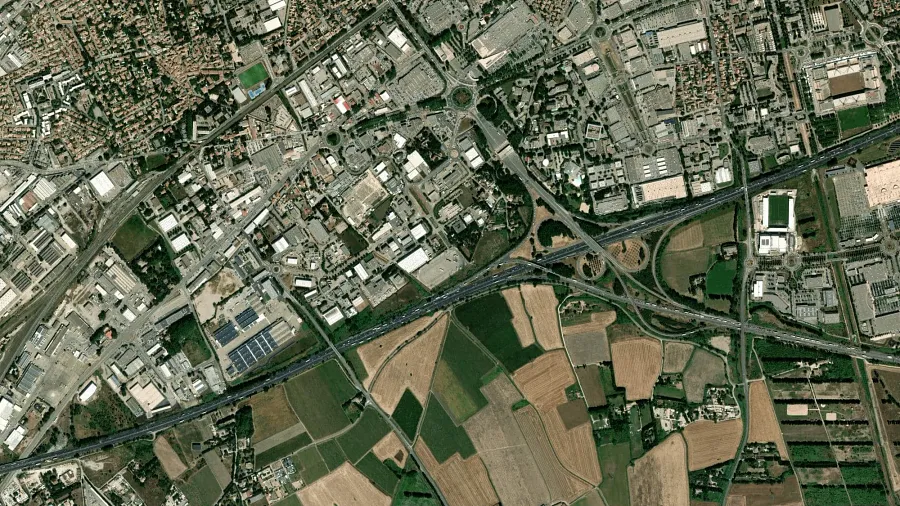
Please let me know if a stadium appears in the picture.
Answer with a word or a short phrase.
Yes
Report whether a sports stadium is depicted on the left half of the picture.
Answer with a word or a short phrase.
No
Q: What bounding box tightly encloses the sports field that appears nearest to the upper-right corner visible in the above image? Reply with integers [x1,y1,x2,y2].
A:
[829,71,866,98]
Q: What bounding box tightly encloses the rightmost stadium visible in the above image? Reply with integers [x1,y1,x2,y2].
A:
[801,48,890,119]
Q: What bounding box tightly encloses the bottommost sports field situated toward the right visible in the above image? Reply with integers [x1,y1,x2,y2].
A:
[769,195,789,228]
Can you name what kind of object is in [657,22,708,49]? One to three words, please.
building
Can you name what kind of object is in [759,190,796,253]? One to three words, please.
stadium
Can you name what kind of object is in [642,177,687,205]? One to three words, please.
building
